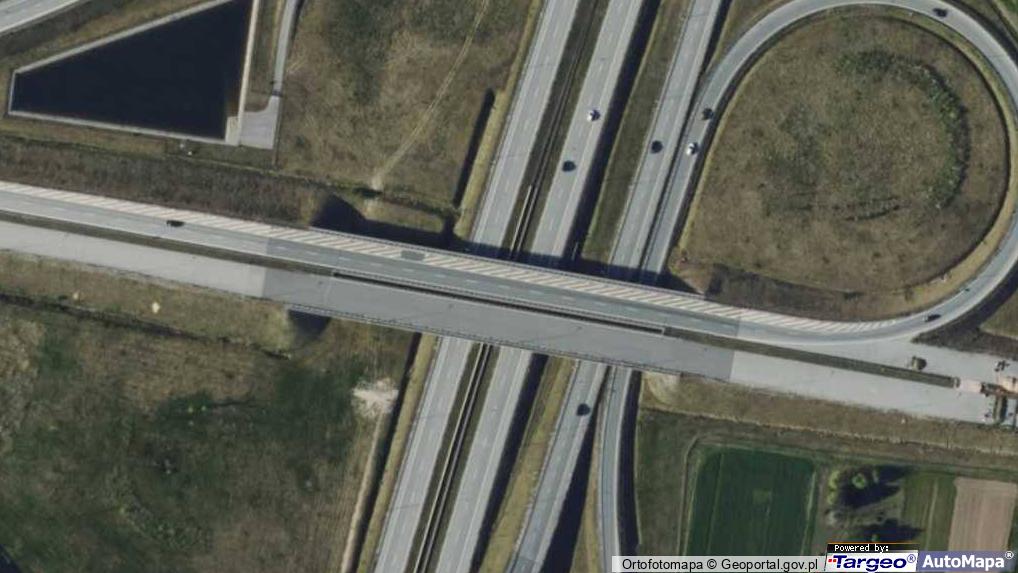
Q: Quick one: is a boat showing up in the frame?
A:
No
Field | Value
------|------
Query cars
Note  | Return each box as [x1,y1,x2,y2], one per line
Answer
[166,220,179,226]
[650,141,657,153]
[926,314,937,321]
[933,8,944,16]
[564,161,571,173]
[687,144,694,156]
[700,108,709,120]
[587,111,594,122]
[578,405,586,417]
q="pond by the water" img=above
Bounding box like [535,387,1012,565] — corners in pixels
[9,0,258,147]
